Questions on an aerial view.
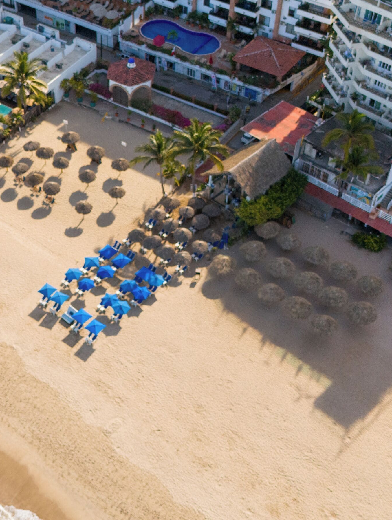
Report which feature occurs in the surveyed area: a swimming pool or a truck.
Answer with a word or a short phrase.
swimming pool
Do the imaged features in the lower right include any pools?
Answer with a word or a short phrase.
No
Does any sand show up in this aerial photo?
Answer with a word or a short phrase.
Yes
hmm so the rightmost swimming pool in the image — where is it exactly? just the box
[142,22,218,55]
